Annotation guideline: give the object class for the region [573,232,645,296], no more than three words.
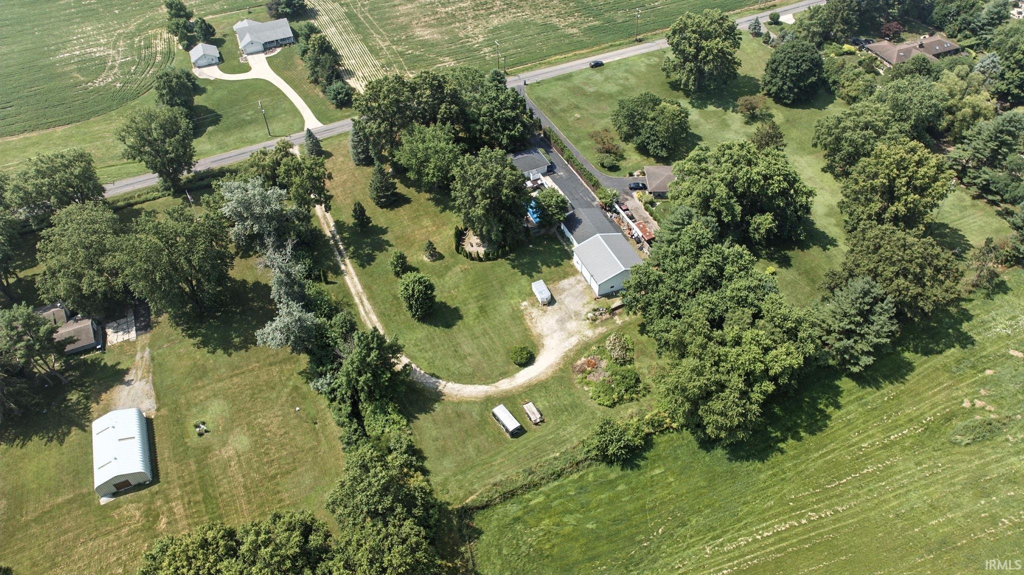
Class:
building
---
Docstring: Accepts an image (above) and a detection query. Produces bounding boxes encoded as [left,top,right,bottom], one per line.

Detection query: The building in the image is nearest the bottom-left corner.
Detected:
[92,410,152,496]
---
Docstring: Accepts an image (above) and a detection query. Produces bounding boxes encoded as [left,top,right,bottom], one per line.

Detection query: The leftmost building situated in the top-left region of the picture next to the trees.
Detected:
[190,41,218,66]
